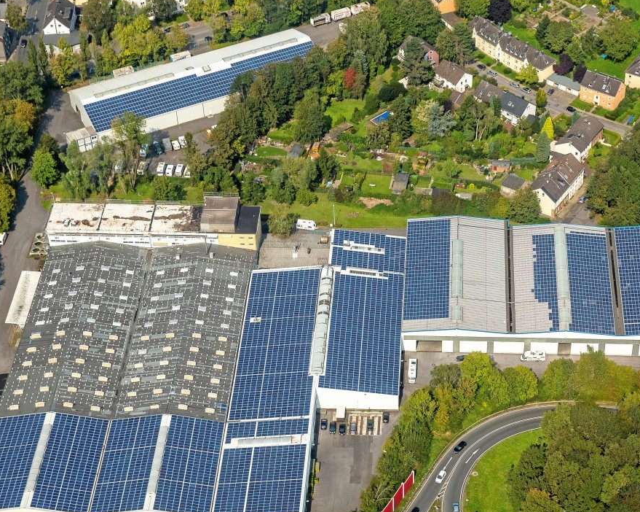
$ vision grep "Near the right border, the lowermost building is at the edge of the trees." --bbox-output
[402,216,640,355]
